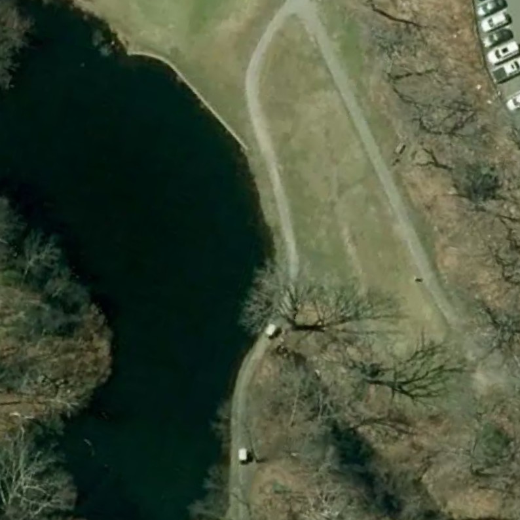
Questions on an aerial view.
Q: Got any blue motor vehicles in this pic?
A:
No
